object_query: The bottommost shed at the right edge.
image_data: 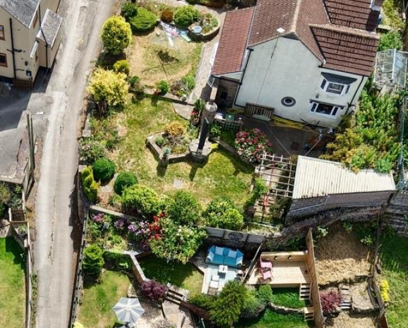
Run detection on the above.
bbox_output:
[284,156,394,218]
